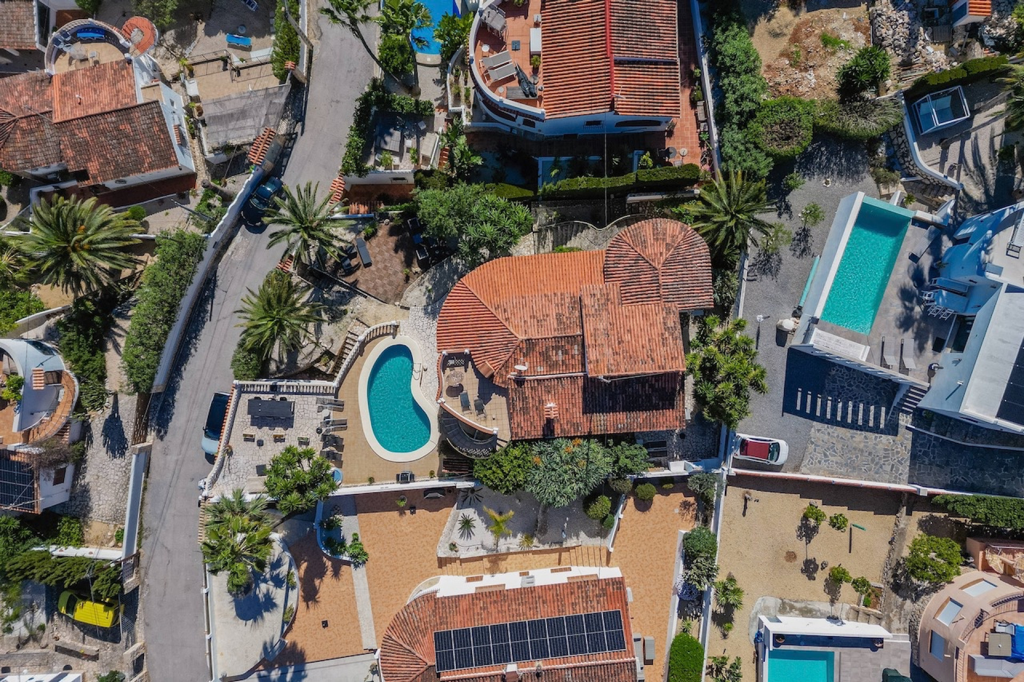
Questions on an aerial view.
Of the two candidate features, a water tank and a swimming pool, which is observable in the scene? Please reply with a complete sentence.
The one in the frame is a swimming pool.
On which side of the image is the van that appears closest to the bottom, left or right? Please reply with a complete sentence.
It is on the left.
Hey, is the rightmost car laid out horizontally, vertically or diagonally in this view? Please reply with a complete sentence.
I'd say the rightmost car is aligned horizontally in the picture.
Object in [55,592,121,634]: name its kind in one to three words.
van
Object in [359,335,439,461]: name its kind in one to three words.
swimming pool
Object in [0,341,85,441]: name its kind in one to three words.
house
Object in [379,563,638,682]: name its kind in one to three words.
house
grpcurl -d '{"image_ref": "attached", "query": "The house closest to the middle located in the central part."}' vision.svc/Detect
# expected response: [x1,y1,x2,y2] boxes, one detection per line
[436,217,715,457]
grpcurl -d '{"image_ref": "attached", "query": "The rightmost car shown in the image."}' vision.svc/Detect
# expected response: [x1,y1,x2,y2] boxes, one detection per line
[733,437,792,468]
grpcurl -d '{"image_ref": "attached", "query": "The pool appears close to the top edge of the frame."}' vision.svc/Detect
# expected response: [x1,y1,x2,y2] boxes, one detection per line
[411,0,460,66]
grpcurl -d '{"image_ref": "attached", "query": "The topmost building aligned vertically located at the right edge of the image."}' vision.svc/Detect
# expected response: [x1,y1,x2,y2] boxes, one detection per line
[922,199,1024,431]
